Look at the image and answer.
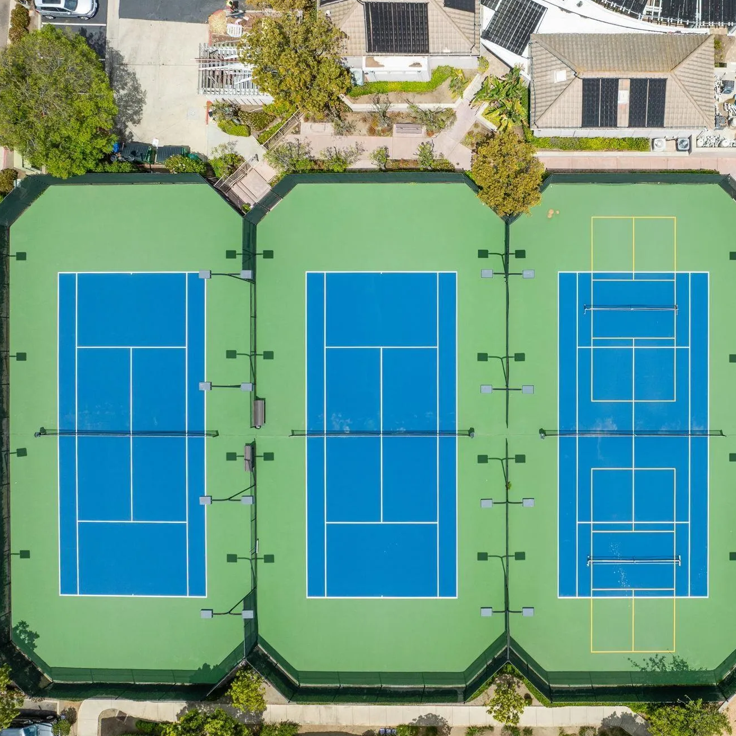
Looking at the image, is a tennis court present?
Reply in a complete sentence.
Yes, you can see a tennis court in this photo.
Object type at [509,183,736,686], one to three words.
tennis court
